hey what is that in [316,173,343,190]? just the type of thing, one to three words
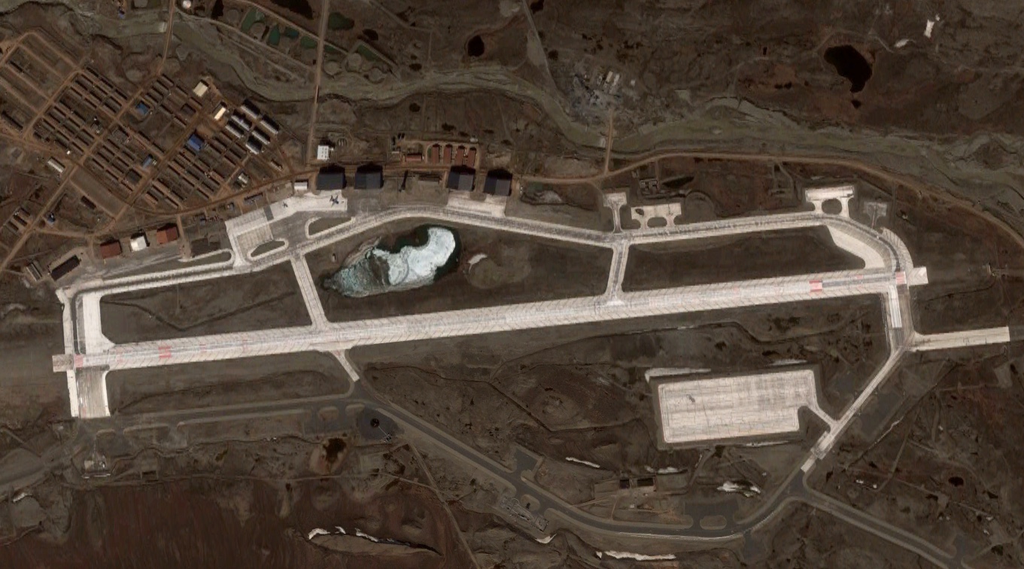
hangar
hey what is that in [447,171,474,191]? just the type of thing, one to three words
hangar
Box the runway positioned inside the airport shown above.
[72,264,911,374]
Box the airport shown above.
[53,185,1010,569]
